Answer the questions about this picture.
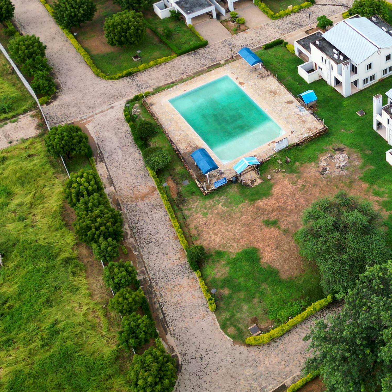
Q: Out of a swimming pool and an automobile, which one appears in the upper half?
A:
swimming pool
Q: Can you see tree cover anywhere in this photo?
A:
Yes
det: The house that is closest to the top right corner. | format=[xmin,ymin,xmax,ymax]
[293,13,392,97]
